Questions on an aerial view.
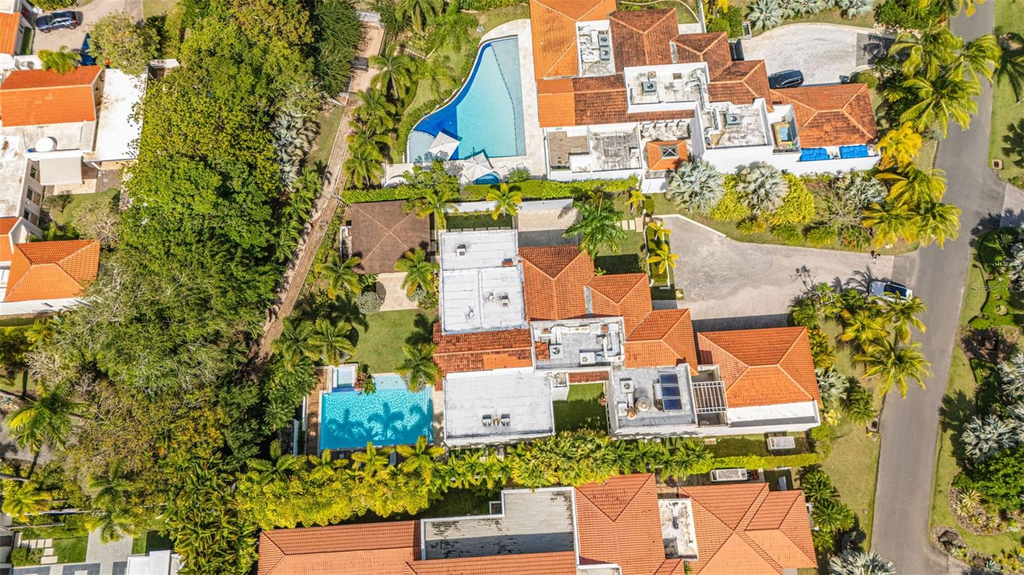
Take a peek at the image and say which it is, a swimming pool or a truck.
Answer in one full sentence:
Looking from above, you can make out a swimming pool.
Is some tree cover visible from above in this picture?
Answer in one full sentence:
Yes, the picture does contain tree cover.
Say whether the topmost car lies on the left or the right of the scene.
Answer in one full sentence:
The topmost car appears in the left half of the scene.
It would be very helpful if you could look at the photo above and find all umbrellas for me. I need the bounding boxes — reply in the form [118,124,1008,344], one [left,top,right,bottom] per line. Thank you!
[426,135,461,163]
[459,152,495,182]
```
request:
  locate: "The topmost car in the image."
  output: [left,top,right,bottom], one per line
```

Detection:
[37,10,77,31]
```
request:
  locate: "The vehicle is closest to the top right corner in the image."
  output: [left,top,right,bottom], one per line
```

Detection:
[767,69,807,89]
